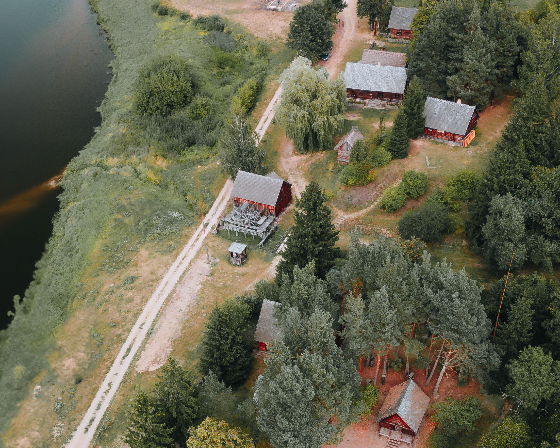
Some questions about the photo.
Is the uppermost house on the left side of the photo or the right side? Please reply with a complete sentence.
The uppermost house is on the right side of the image.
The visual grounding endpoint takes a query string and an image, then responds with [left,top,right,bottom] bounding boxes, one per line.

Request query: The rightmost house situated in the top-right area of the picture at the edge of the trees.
[420,96,481,148]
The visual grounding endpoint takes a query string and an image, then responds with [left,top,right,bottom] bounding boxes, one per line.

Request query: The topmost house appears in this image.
[388,11,416,38]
